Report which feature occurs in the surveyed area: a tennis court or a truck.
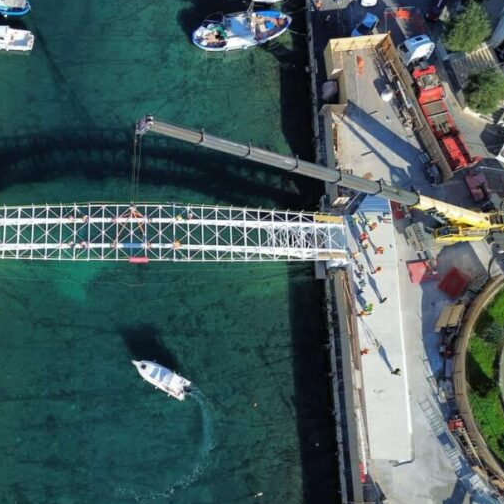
truck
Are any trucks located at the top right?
Yes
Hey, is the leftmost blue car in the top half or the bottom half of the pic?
top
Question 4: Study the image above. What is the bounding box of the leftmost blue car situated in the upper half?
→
[349,12,379,39]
